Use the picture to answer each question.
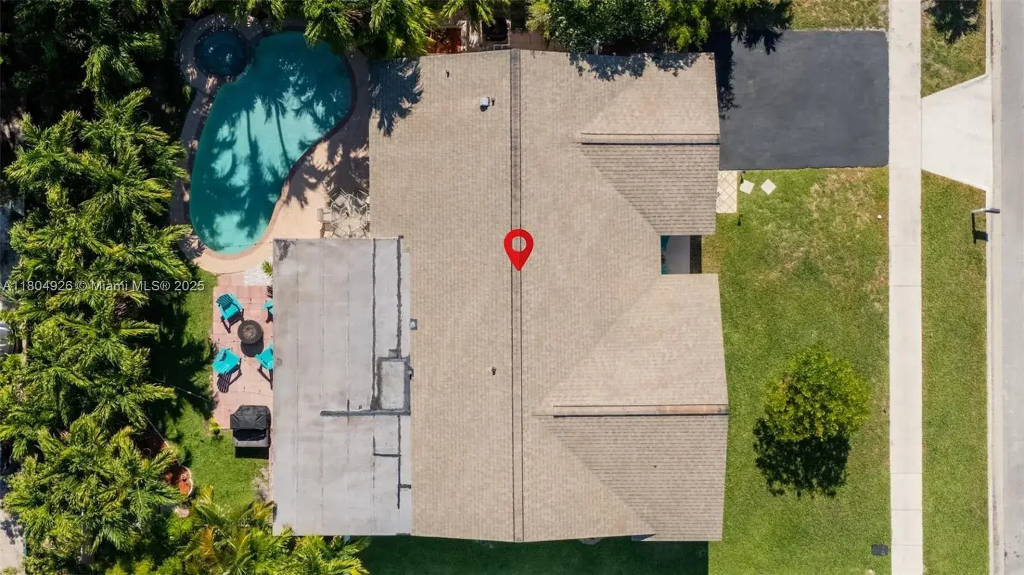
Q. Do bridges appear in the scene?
No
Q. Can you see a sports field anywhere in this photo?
No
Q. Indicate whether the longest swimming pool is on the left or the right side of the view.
left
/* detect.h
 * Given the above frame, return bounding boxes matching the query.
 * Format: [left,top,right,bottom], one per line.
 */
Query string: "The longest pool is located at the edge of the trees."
[182,24,360,260]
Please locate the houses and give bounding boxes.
[272,49,728,544]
